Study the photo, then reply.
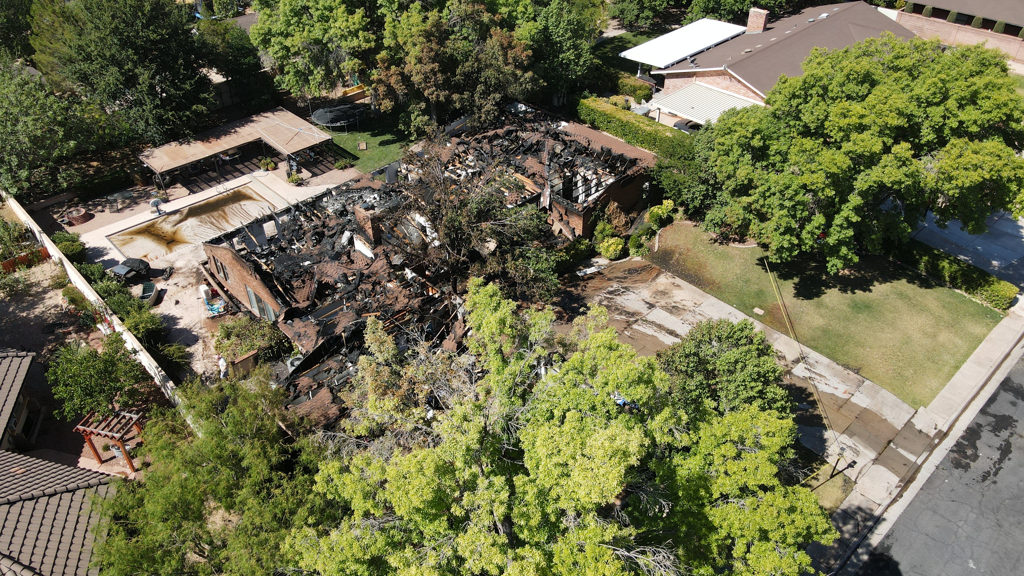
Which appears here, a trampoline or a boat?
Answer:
trampoline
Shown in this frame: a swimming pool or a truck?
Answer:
swimming pool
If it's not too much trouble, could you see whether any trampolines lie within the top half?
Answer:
Yes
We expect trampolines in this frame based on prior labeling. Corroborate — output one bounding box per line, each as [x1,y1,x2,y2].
[307,84,368,137]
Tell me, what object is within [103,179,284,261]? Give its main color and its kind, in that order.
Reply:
white swimming pool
